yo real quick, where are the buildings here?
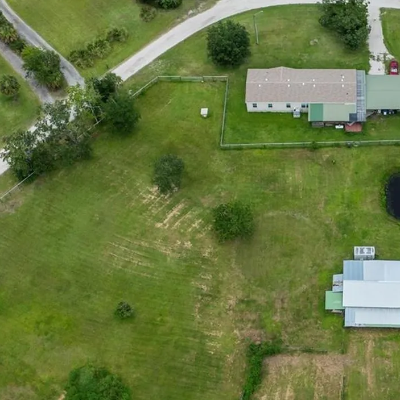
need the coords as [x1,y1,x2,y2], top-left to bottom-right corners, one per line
[326,260,400,332]
[245,64,367,131]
